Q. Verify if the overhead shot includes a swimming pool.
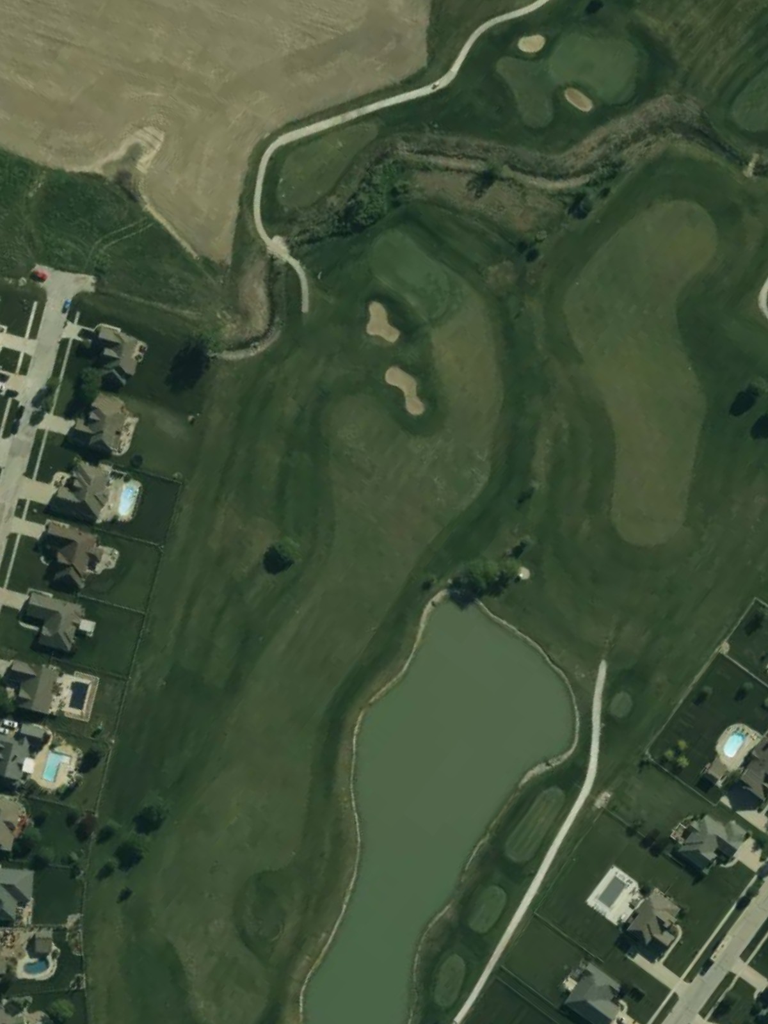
Yes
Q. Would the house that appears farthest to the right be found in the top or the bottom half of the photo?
bottom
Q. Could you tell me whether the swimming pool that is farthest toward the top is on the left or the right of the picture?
left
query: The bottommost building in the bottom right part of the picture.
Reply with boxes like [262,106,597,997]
[563,962,629,1024]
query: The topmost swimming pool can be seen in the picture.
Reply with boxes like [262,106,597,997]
[97,477,142,524]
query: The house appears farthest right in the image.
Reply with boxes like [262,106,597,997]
[731,736,768,807]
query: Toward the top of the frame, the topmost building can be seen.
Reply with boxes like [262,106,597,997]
[95,327,140,391]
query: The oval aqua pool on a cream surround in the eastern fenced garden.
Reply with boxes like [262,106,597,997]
[716,723,762,772]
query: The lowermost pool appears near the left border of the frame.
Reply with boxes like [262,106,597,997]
[17,945,60,980]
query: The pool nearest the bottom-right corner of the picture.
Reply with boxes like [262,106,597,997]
[587,866,642,925]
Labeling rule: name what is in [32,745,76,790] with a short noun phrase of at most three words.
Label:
swimming pool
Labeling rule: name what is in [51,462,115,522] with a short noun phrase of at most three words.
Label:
house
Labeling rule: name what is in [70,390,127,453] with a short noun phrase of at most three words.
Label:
house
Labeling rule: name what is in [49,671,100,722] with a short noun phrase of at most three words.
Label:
swimming pool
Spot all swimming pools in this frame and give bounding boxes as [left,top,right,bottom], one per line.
[49,671,100,722]
[716,723,762,772]
[32,745,76,790]
[97,477,142,524]
[587,866,642,925]
[17,945,60,980]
